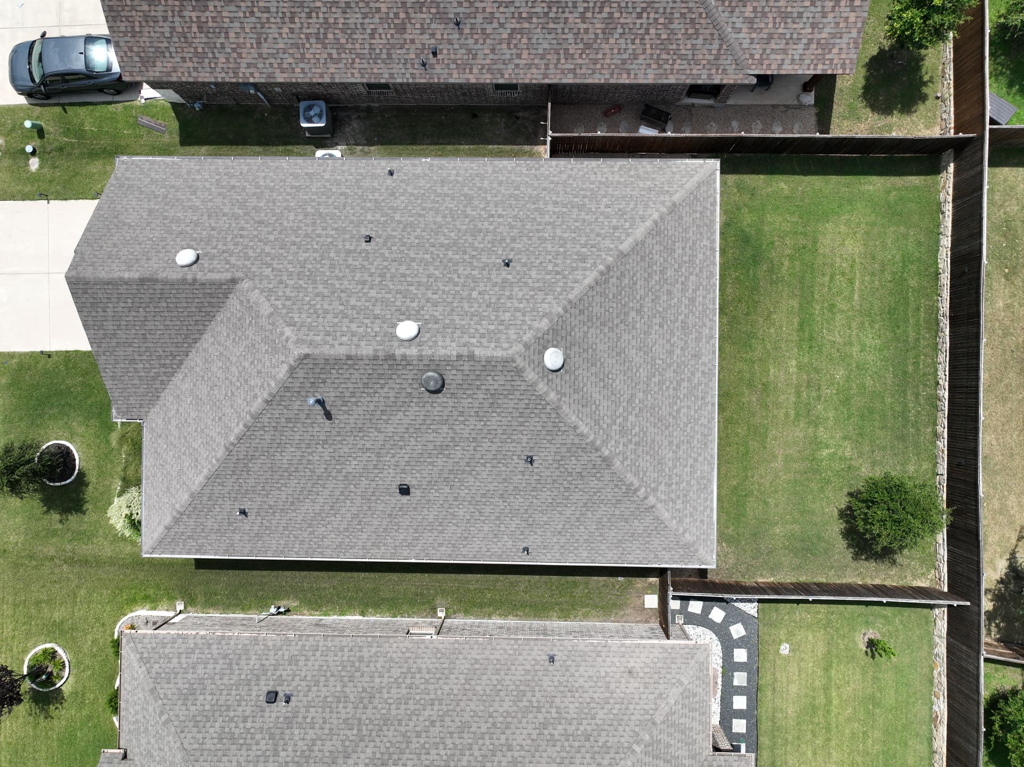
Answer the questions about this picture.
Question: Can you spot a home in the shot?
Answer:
Yes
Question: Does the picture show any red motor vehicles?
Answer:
No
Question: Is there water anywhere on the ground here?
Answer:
No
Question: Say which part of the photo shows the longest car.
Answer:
top left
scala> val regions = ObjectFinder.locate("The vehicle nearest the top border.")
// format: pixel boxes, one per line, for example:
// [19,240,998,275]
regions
[4,32,134,99]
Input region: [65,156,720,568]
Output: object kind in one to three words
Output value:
house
